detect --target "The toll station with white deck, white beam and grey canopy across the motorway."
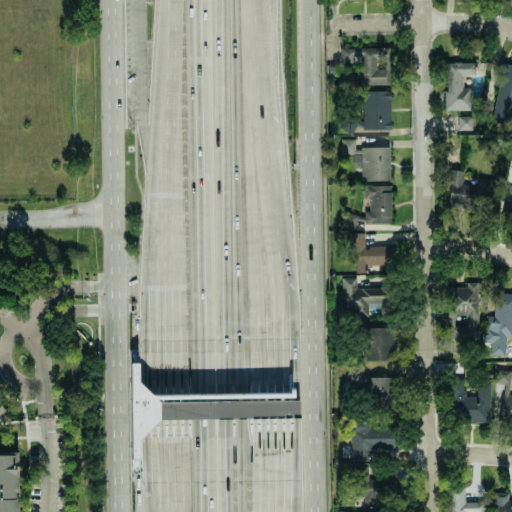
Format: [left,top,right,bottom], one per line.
[132,364,302,462]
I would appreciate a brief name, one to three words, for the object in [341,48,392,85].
house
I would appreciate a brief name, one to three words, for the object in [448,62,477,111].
house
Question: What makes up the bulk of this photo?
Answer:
paved ground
